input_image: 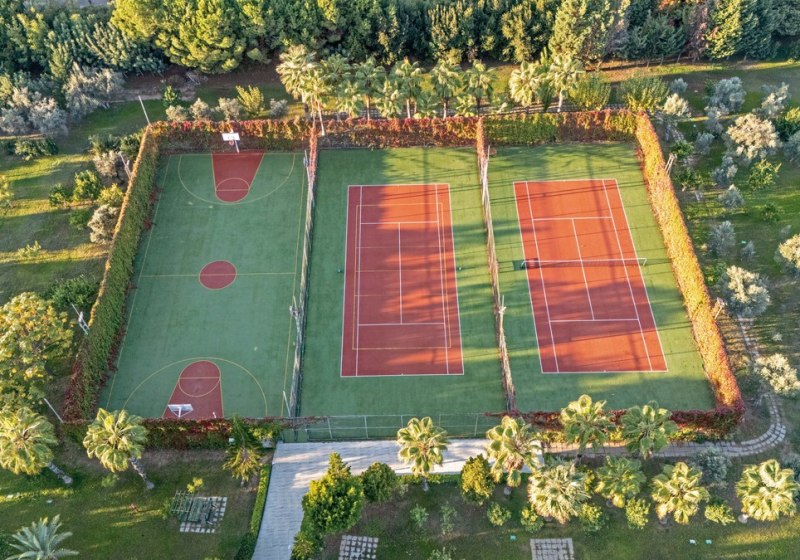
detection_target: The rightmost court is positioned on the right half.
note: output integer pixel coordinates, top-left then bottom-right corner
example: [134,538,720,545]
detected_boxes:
[484,141,717,430]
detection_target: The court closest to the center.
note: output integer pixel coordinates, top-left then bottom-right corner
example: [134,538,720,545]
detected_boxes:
[295,144,518,441]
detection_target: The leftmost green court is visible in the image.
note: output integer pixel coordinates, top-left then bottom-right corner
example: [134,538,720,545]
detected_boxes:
[90,149,318,441]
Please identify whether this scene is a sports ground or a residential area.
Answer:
sports ground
